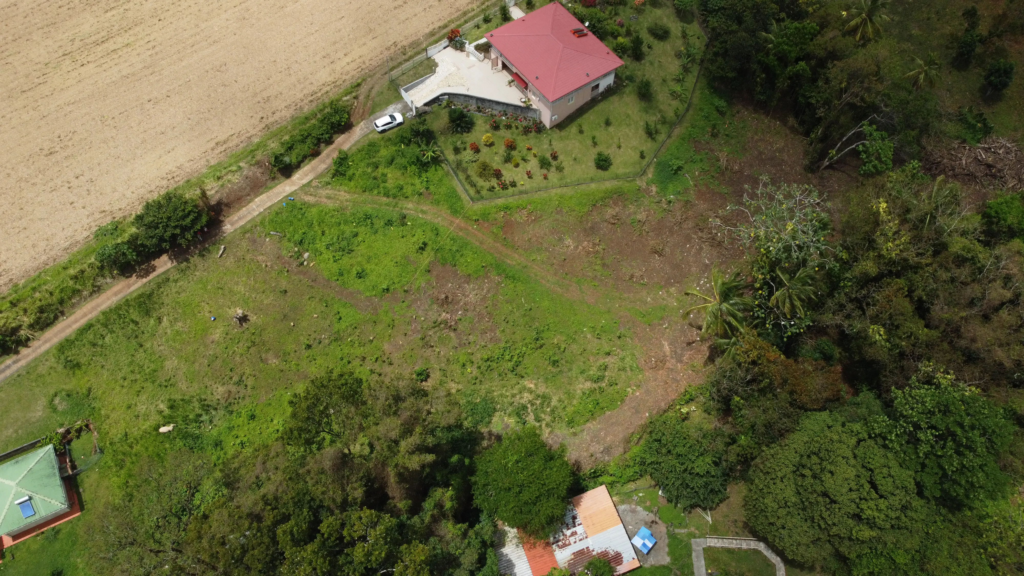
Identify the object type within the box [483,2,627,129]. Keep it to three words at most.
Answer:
house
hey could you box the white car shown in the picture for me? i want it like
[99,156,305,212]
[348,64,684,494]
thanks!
[372,113,403,131]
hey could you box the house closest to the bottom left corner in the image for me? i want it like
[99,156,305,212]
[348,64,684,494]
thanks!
[0,444,71,539]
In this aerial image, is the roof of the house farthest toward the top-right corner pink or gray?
pink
